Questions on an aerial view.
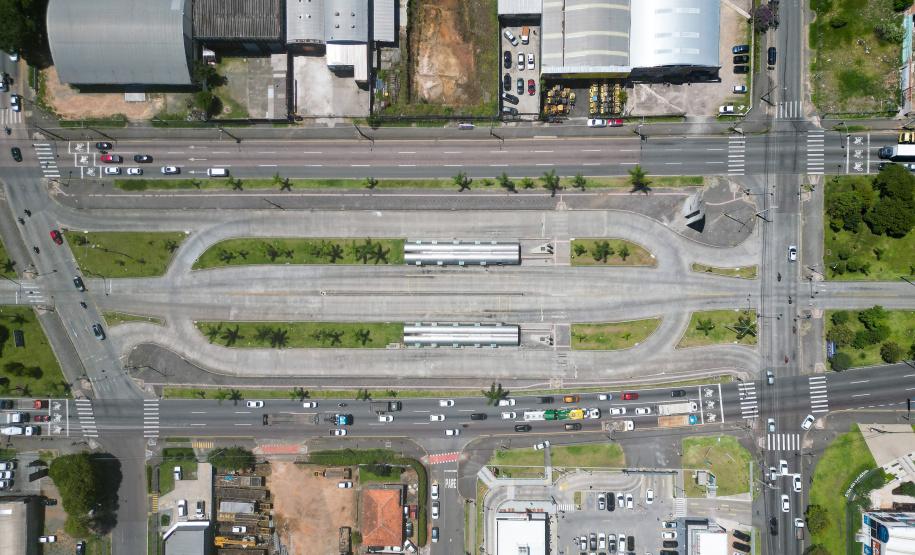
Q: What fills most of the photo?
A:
paved ground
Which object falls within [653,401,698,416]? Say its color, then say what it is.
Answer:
white vehicle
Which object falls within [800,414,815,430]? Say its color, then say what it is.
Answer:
white car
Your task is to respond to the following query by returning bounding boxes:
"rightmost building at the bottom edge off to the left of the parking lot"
[496,502,547,555]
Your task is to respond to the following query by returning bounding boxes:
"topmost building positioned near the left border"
[46,0,198,88]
